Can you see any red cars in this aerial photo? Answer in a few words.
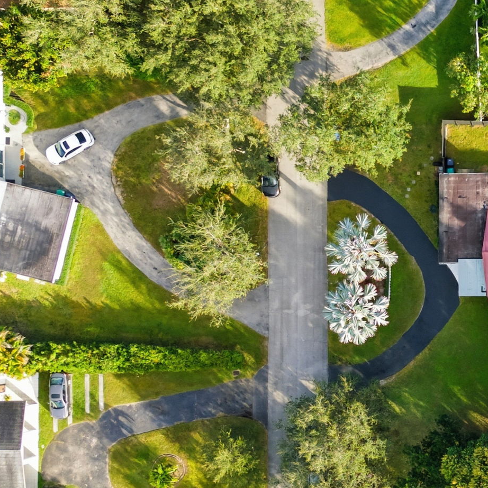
No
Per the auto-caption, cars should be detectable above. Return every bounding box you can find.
[46,128,96,165]
[259,150,282,199]
[47,373,72,419]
